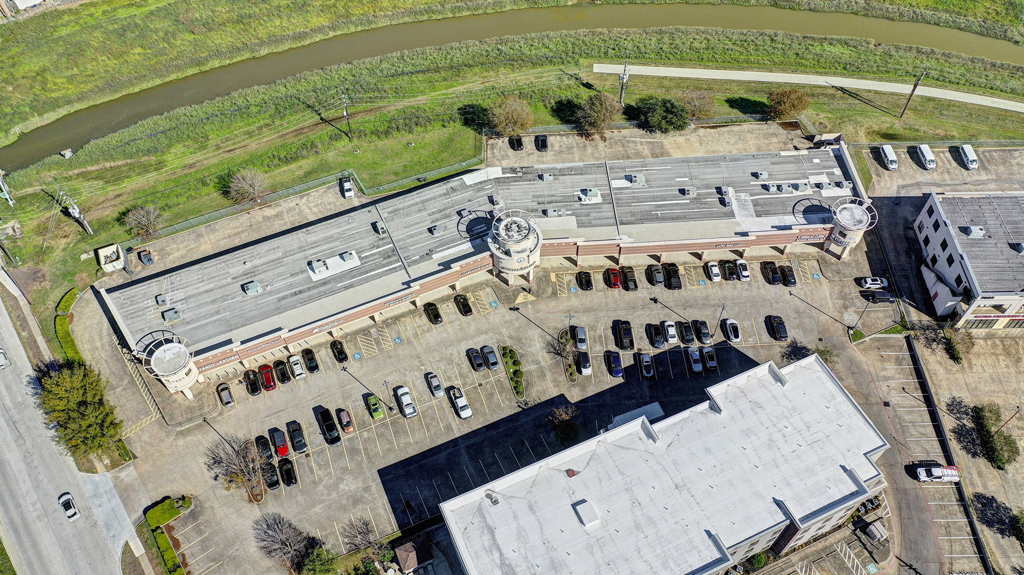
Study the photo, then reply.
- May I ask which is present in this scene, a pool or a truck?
truck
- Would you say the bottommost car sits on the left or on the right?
left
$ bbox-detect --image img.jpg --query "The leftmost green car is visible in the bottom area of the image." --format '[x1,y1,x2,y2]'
[367,395,384,421]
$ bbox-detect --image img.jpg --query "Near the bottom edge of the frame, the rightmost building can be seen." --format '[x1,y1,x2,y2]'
[439,354,890,575]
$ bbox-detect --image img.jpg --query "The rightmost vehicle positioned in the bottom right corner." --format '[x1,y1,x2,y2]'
[916,466,963,484]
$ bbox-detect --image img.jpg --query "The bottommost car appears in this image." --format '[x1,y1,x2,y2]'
[58,492,81,523]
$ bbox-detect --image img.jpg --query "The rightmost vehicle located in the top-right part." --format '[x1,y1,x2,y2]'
[959,143,979,170]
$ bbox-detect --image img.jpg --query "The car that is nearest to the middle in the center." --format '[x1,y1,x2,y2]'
[455,293,474,318]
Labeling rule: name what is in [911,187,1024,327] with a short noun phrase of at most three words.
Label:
building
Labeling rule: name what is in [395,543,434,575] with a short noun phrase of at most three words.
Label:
building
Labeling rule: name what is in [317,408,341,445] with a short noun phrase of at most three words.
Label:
truck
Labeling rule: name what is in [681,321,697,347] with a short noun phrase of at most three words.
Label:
car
